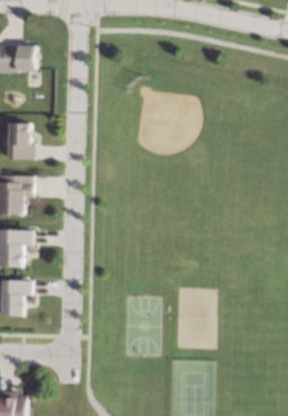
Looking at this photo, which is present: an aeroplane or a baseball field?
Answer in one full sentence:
The one in the frame is a baseball field.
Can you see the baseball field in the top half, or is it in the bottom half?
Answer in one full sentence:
You can find the baseball field in the top half.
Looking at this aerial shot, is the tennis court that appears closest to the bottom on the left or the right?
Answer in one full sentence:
The tennis court that appears closest to the bottom is on the right side of the image.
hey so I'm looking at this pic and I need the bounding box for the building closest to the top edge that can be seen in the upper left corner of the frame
[0,45,37,74]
